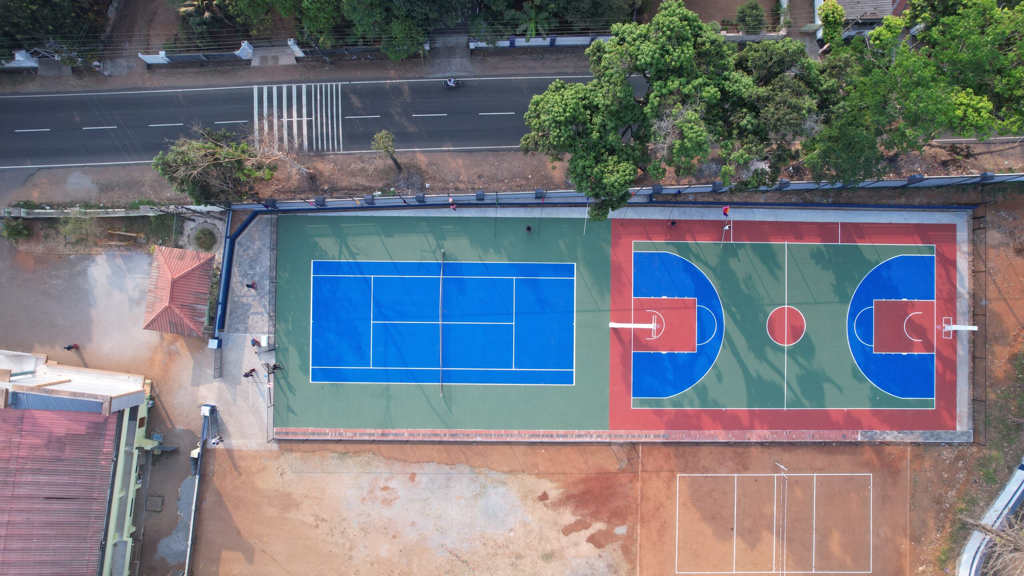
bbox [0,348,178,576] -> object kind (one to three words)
building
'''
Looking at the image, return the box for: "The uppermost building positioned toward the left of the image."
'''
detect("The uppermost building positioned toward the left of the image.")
[141,245,217,338]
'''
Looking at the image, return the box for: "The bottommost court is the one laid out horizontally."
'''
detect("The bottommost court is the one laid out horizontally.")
[637,445,910,576]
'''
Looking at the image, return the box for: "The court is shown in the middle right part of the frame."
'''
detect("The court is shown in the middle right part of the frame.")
[609,219,957,431]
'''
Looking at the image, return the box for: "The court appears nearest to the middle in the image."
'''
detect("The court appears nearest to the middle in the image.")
[275,216,611,430]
